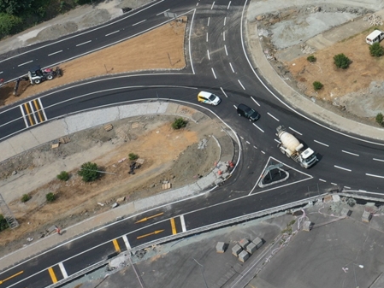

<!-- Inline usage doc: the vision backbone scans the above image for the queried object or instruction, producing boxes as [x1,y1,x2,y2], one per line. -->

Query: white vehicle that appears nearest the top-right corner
[364,28,384,45]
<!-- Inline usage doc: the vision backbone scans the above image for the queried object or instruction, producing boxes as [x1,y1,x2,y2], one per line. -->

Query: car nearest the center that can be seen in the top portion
[197,90,221,107]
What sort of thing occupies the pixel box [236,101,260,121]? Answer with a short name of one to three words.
car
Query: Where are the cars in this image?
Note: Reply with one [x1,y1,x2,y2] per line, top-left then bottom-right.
[236,101,260,121]
[197,90,221,107]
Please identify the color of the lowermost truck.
white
